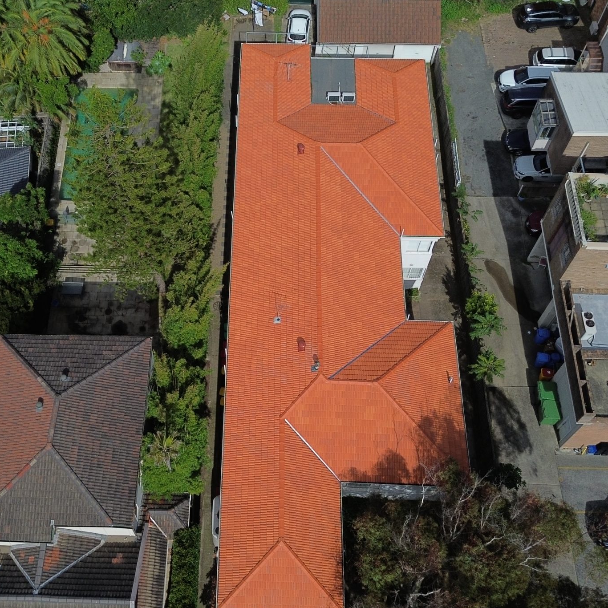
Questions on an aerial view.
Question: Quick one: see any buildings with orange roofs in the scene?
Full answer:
Yes, looking at the shot, I can spot a building with an orange roof.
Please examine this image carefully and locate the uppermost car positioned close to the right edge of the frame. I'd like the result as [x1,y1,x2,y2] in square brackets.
[511,0,579,35]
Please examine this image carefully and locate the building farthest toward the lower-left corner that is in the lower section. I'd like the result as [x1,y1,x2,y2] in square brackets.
[0,332,196,608]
